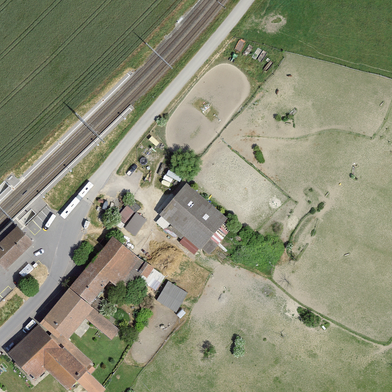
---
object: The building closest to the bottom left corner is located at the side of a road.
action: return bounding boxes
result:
[8,324,62,383]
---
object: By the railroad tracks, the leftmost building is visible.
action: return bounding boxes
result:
[0,224,32,270]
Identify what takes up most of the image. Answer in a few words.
farmland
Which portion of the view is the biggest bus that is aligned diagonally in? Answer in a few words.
left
